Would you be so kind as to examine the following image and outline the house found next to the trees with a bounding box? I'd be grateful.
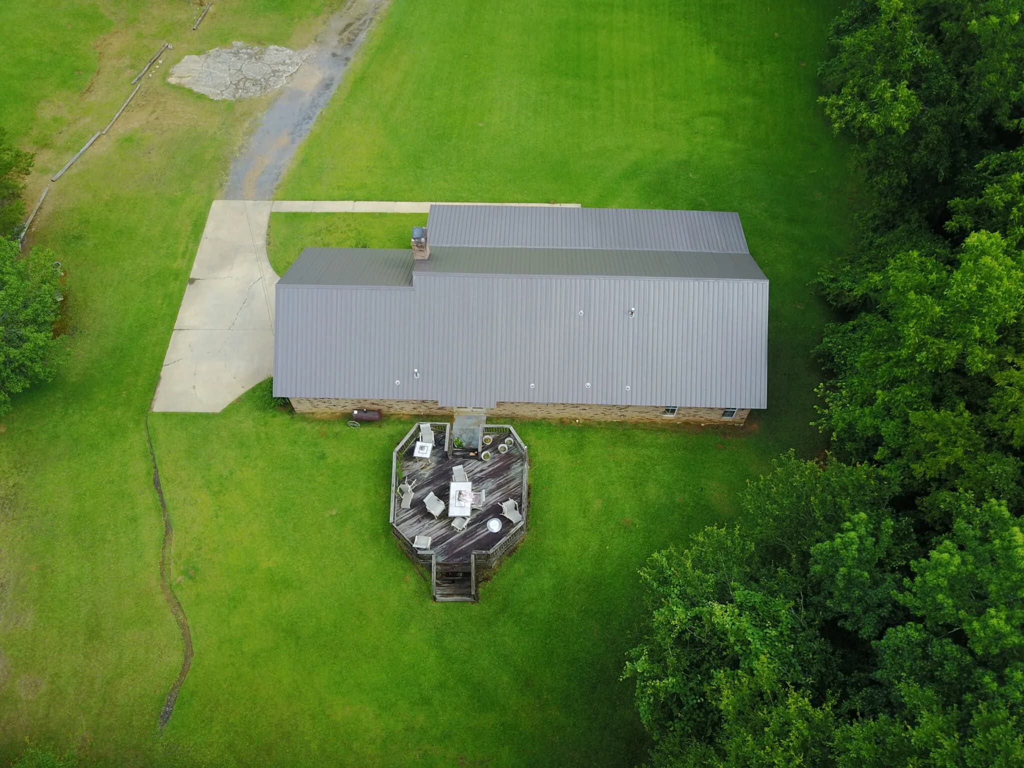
[272,205,769,425]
